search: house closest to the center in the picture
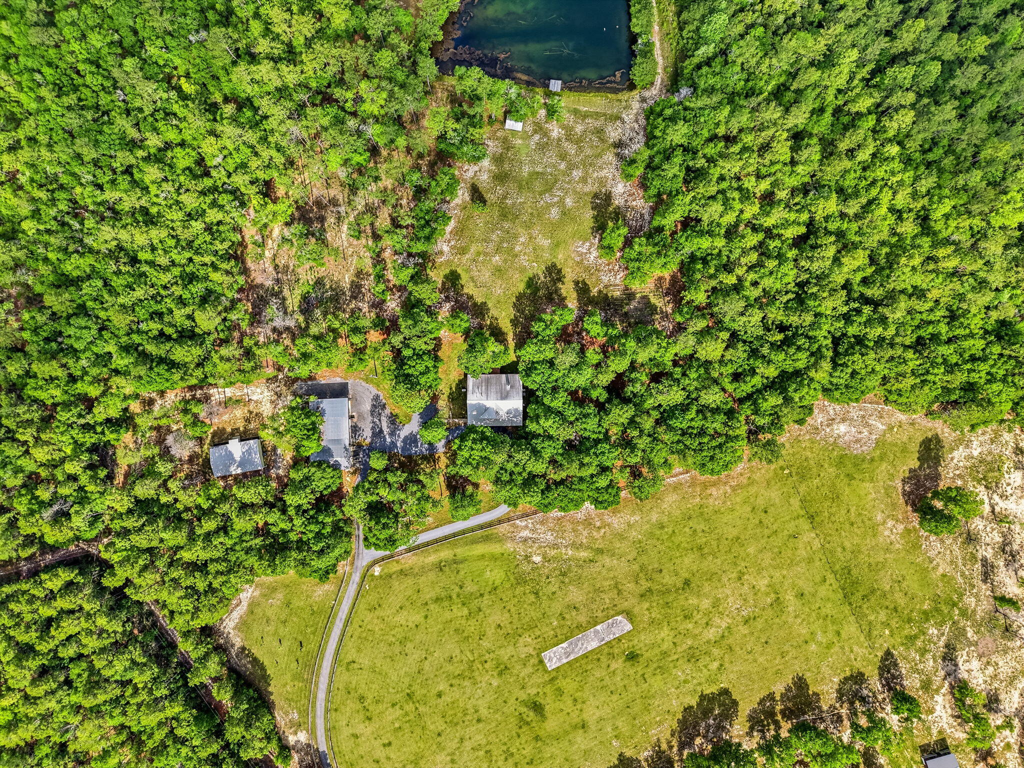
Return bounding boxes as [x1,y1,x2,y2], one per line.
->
[467,374,523,426]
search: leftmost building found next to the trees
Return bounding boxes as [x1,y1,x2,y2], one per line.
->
[210,435,267,477]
